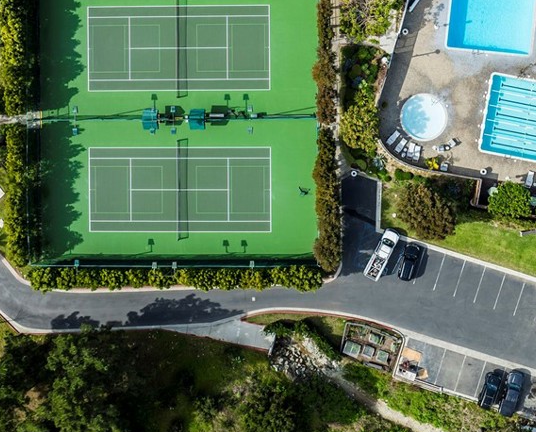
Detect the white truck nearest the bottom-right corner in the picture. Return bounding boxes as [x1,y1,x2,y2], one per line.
[366,232,397,279]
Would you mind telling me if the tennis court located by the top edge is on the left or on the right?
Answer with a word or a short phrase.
left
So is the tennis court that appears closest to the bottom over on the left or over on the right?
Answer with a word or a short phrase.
left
